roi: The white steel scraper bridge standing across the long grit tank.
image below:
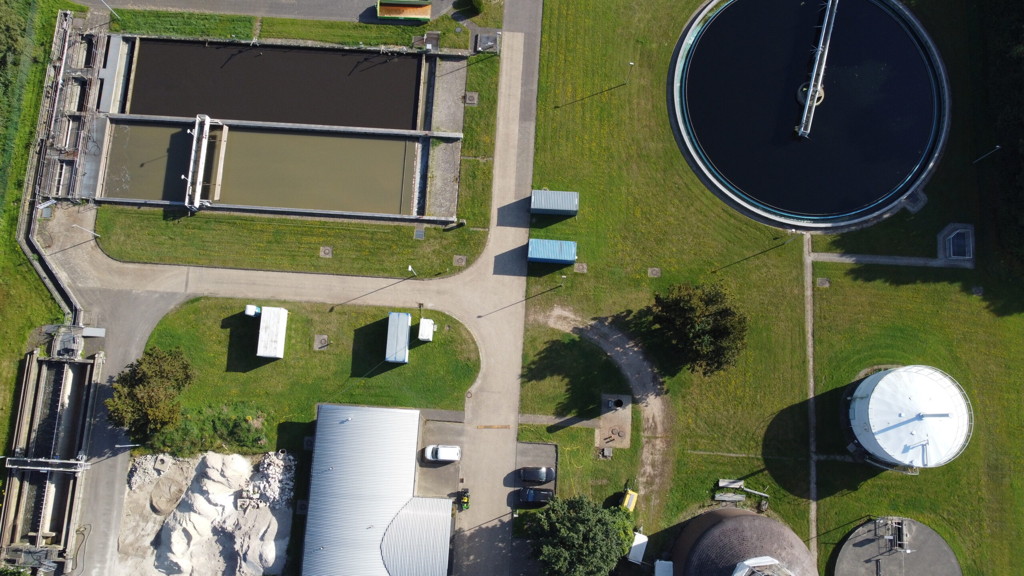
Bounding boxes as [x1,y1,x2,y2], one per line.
[6,447,90,472]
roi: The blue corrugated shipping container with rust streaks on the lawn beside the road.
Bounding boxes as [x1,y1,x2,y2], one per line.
[527,239,577,265]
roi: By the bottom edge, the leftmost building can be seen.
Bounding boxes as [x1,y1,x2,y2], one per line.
[301,403,454,576]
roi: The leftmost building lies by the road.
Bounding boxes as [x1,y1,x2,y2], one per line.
[257,307,294,358]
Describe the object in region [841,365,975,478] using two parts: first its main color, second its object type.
white storage tank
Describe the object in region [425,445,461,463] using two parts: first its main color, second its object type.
white vehicle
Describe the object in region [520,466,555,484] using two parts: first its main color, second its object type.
black car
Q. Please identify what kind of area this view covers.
industrial area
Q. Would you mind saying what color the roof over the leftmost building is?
white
